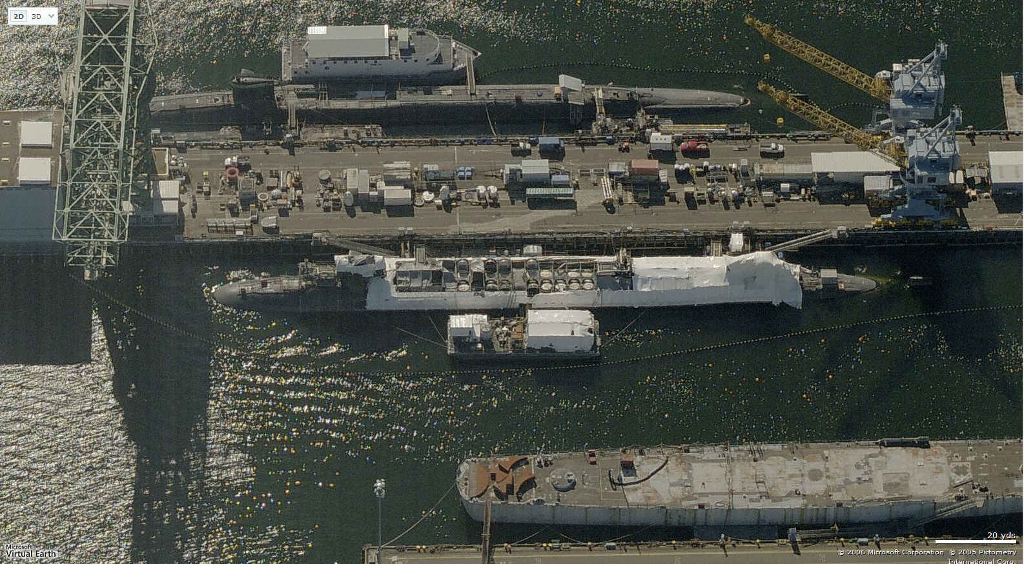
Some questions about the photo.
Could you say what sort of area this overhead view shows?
port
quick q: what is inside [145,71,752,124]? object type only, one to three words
ship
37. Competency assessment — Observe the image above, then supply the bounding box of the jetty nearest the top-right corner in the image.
[1002,73,1024,134]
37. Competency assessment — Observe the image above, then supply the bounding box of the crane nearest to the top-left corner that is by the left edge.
[49,0,160,300]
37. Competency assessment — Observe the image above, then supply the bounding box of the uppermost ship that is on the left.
[282,21,481,82]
